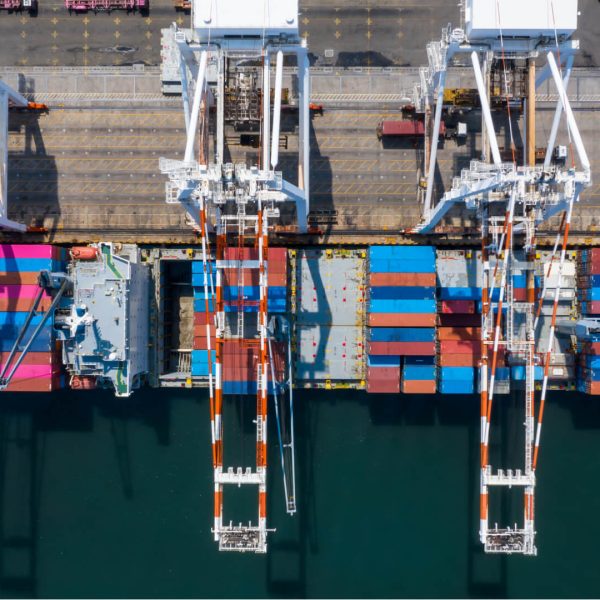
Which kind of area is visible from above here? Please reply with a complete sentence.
The area seen from above is a port.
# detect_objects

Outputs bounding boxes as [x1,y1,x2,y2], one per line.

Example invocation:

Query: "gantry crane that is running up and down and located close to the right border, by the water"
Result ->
[391,0,600,551]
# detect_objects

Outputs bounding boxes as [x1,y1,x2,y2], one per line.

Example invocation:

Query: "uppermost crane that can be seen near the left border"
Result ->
[0,80,49,234]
